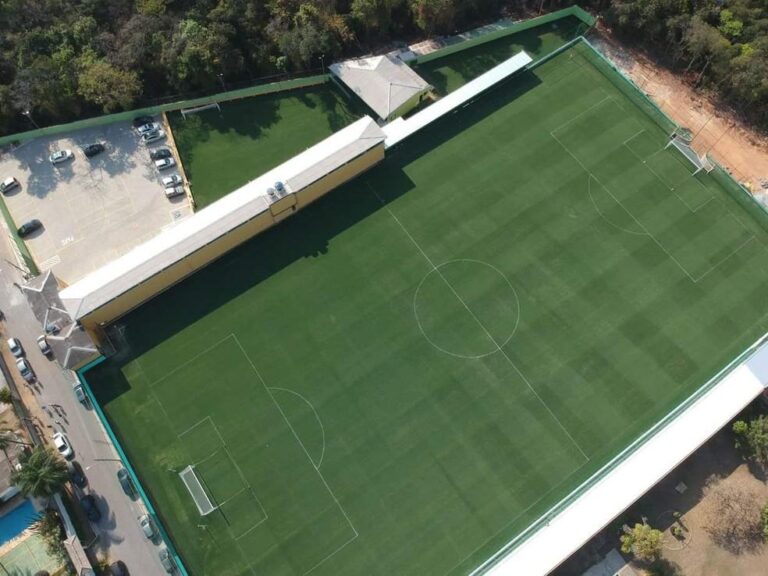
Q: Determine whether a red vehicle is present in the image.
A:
No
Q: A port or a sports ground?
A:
sports ground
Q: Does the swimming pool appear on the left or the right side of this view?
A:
left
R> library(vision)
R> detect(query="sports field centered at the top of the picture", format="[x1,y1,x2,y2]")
[166,15,592,212]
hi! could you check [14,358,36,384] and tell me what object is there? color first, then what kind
gray car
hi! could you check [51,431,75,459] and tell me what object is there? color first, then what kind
white car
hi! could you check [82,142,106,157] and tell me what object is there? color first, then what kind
black car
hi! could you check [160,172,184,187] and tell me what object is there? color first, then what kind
white car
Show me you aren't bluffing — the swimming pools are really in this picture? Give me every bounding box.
[0,496,43,552]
